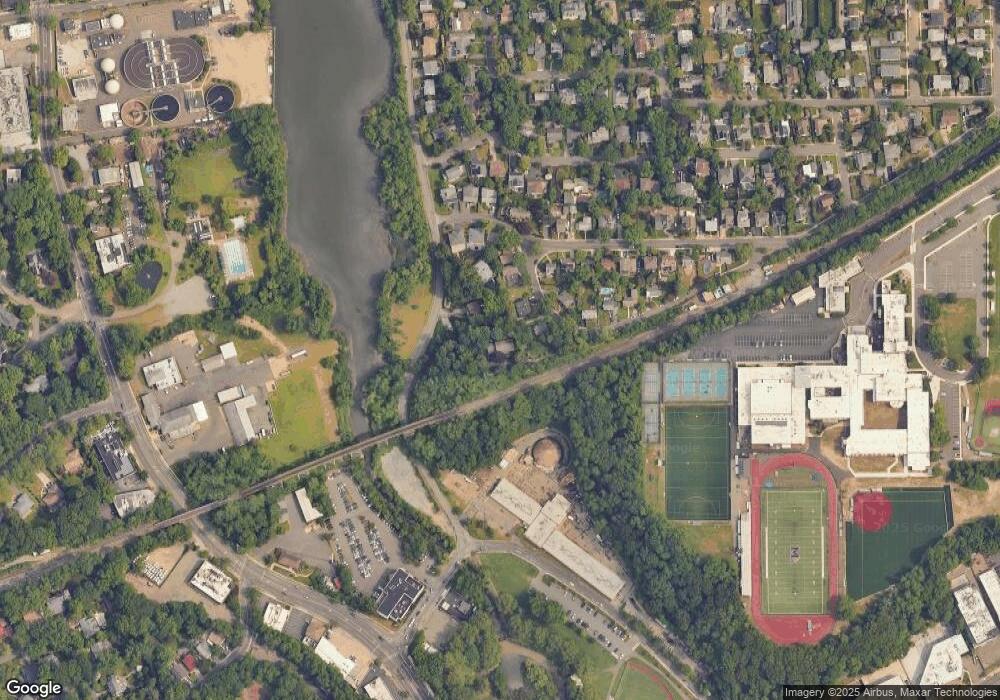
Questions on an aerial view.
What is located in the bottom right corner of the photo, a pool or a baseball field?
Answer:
baseball field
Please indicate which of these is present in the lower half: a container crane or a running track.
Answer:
running track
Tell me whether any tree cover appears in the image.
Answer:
Yes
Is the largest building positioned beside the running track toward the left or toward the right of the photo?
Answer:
right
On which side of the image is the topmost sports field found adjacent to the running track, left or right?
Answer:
right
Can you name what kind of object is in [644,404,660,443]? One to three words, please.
basketball court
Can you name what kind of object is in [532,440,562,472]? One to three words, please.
storage tank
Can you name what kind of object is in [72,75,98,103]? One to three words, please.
house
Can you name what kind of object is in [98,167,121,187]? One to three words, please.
building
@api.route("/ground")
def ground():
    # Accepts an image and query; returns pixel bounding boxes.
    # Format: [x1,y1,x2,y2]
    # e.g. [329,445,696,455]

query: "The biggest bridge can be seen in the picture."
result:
[233,413,432,500]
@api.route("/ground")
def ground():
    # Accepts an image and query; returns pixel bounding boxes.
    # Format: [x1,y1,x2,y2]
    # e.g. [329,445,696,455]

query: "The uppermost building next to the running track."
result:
[738,280,930,473]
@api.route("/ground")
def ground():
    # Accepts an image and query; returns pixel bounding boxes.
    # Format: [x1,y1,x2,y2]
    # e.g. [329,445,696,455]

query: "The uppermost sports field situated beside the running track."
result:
[665,405,731,519]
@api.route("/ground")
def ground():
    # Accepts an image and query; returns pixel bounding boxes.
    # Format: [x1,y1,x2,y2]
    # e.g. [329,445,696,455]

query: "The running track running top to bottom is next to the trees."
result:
[752,453,837,643]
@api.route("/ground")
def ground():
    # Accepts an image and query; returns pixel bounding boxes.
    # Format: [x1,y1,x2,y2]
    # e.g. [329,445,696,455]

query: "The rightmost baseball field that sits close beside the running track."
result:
[846,485,954,602]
